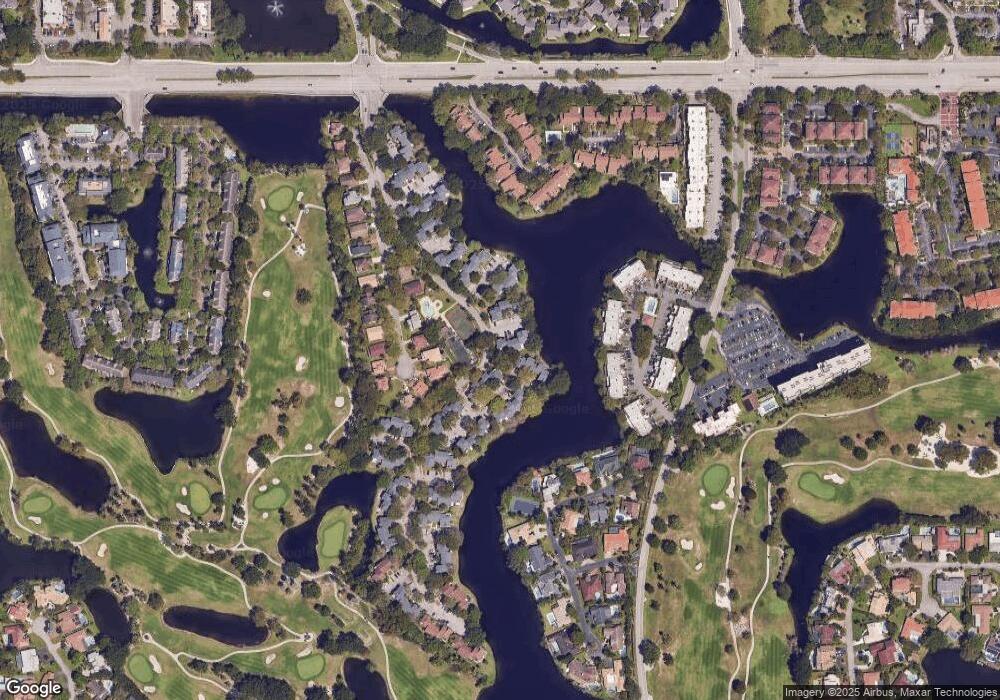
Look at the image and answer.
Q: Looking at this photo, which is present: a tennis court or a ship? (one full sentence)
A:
This aerial view contains a tennis court.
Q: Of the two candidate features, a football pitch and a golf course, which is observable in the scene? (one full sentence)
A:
There is a golf course in the scene.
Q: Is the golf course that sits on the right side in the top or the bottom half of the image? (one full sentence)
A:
You can find the golf course that sits on the right side in the bottom half.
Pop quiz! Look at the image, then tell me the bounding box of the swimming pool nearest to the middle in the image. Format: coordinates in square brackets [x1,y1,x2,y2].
[420,297,441,319]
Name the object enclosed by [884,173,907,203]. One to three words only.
swimming pool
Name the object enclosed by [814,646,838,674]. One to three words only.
house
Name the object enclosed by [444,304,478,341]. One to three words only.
tennis court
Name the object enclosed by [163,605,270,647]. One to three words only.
pond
